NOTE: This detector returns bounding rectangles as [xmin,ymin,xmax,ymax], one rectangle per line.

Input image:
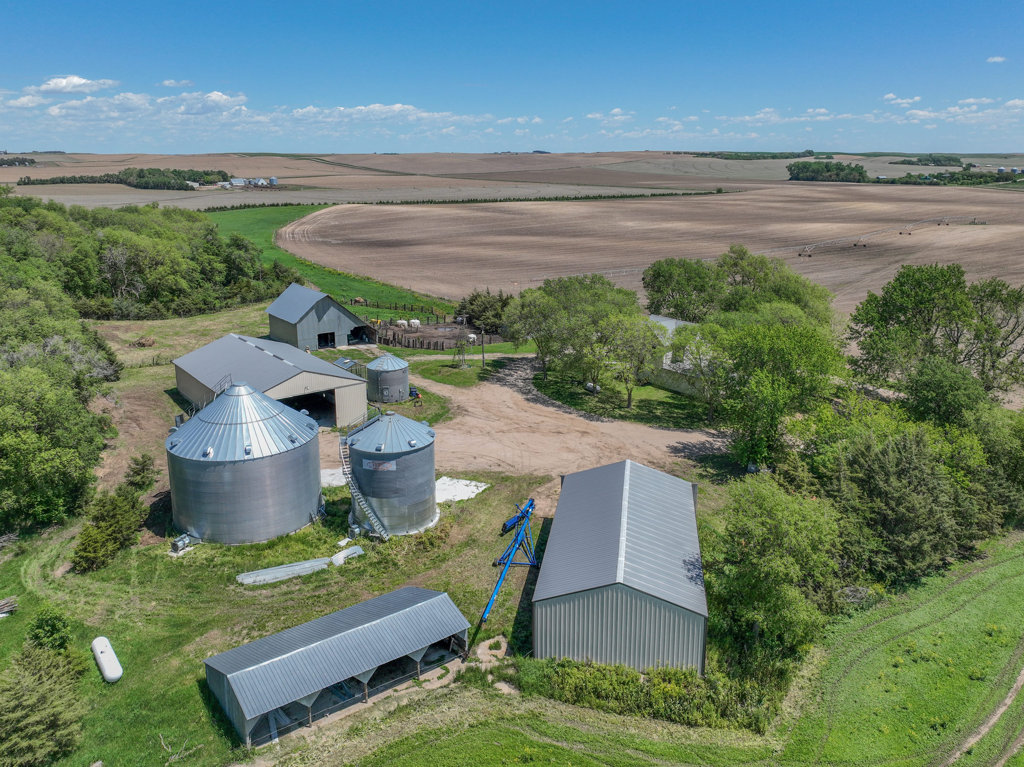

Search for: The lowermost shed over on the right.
[530,458,707,674]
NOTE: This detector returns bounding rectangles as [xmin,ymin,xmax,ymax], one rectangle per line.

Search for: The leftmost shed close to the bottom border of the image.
[205,585,472,745]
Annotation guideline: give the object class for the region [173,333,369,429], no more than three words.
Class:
shed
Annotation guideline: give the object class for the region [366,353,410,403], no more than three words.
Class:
silo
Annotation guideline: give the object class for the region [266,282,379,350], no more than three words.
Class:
barn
